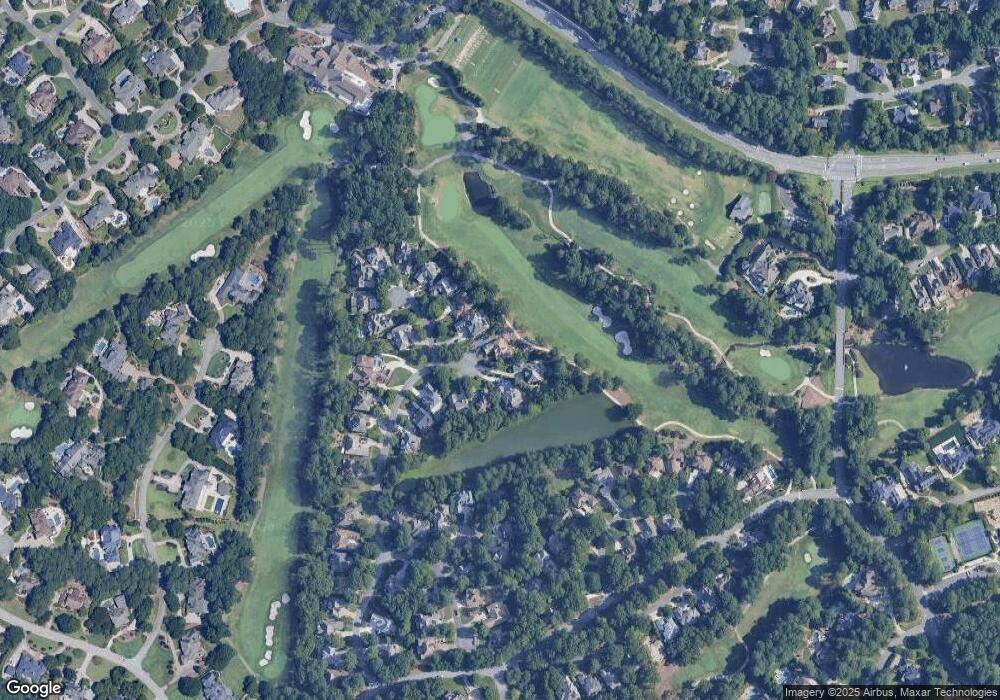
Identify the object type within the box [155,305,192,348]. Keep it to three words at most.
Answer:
house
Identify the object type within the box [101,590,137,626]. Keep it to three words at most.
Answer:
house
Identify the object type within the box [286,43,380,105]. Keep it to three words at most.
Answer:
building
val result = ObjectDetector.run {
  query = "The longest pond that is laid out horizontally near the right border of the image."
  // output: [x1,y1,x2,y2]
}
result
[860,344,974,394]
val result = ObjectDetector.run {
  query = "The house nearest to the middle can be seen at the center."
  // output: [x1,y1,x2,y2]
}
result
[482,336,521,359]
